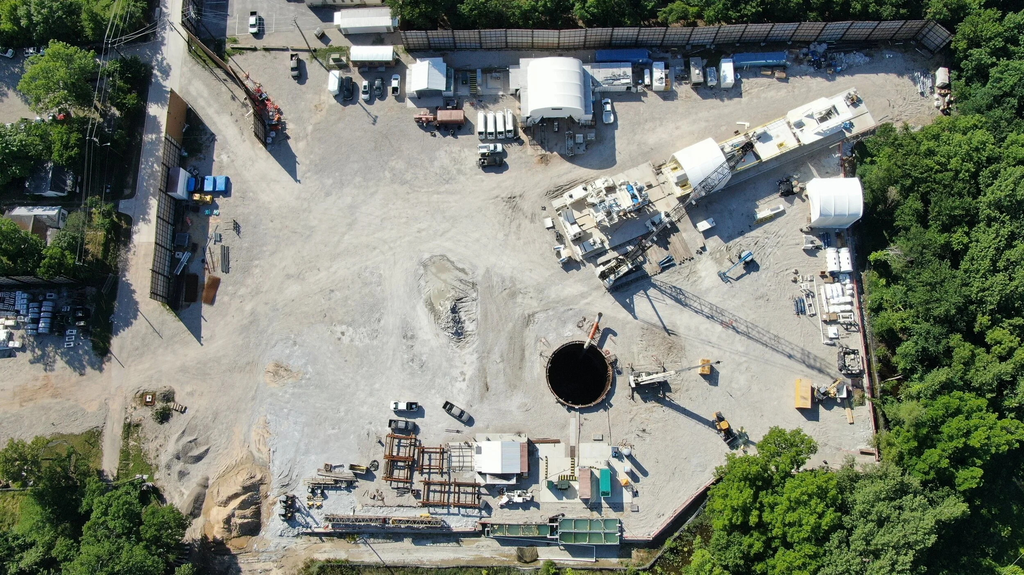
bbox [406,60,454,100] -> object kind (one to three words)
shed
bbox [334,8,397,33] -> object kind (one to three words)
trailer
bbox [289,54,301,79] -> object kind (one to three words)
vehicle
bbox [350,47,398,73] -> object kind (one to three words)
building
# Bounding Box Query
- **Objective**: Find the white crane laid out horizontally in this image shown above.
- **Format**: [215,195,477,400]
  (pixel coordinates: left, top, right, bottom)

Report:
[625,359,722,402]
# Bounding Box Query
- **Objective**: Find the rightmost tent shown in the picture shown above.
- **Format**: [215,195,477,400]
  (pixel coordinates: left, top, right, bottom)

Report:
[801,182,864,229]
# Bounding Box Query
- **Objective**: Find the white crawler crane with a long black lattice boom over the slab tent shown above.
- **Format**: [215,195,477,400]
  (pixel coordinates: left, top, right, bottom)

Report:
[590,115,776,296]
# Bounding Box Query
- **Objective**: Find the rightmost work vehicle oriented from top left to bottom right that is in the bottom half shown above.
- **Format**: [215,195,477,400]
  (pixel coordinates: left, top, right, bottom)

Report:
[713,413,737,446]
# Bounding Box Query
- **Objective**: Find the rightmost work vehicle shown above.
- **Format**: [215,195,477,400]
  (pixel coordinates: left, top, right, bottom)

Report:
[812,377,849,405]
